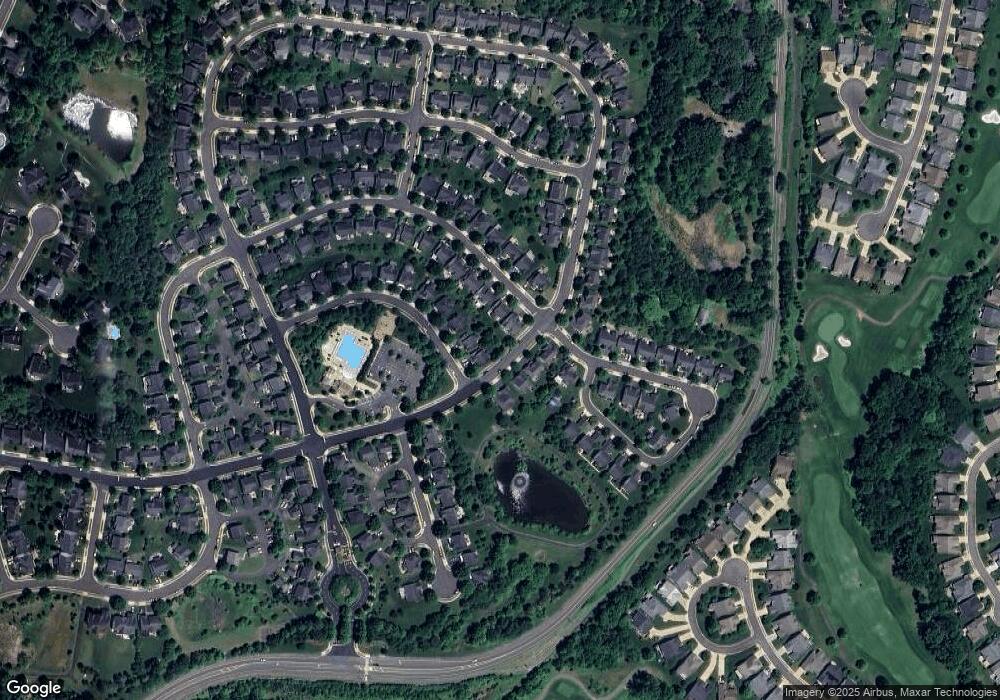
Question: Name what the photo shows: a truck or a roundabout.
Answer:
roundabout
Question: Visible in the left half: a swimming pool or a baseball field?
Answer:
swimming pool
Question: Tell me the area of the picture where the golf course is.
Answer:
right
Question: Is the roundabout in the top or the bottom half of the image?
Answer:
bottom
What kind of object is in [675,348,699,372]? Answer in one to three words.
house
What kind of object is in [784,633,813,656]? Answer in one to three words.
house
